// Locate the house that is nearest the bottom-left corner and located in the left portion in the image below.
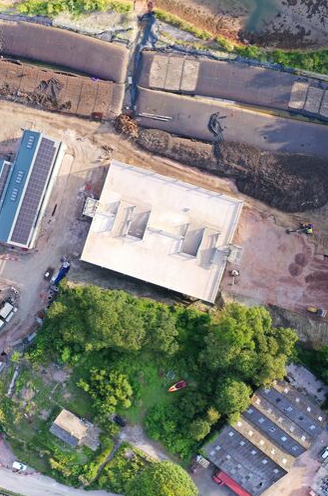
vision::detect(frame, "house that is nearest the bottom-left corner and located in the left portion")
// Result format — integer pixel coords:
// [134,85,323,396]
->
[47,406,101,450]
